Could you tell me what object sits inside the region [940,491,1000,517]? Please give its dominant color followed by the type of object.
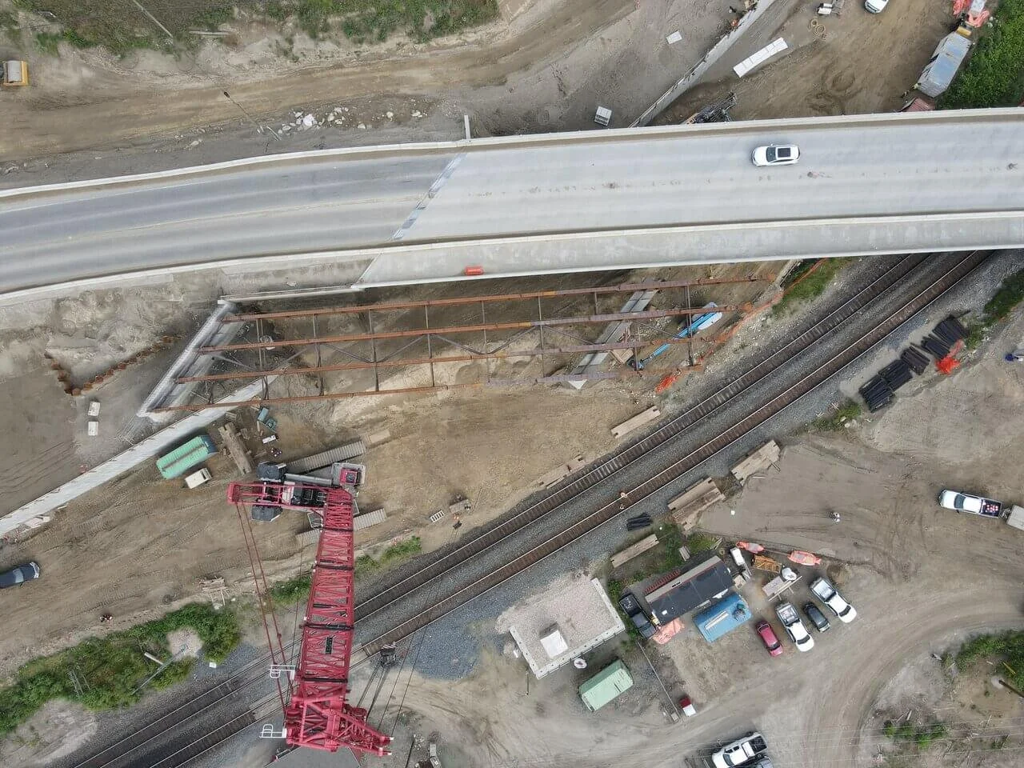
white truck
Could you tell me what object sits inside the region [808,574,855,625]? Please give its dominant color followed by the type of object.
white truck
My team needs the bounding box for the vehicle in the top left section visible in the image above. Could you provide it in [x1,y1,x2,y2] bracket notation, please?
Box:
[0,61,31,88]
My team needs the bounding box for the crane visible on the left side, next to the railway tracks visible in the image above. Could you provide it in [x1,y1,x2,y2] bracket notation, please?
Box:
[226,443,460,763]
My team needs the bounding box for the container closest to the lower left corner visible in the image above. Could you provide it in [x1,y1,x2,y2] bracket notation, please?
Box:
[158,434,222,479]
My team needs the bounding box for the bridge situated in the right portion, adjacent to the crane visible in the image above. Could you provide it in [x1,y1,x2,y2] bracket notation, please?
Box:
[355,108,1024,288]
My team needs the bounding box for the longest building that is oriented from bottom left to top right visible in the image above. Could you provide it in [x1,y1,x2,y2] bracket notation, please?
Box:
[637,552,732,630]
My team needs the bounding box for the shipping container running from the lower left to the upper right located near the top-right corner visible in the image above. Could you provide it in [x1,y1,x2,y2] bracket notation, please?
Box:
[907,35,972,100]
